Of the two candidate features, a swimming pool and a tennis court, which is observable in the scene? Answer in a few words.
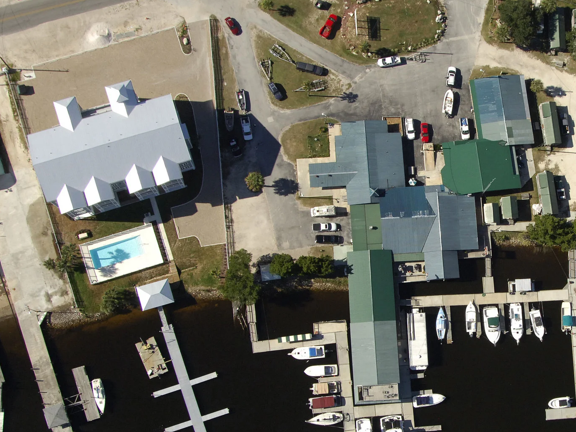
swimming pool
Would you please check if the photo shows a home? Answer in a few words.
Yes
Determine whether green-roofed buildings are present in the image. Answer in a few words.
Yes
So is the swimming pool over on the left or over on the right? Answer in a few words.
left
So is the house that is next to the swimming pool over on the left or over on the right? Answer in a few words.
left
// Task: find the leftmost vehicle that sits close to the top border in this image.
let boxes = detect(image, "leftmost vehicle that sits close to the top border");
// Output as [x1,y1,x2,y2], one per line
[224,16,239,35]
